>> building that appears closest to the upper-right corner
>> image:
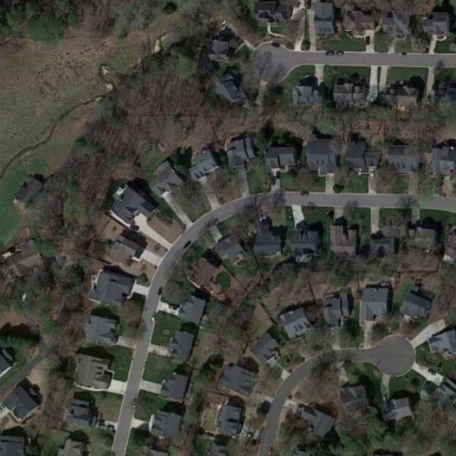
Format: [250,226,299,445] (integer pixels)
[424,7,451,34]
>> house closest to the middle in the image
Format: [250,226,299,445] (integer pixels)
[213,235,247,266]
